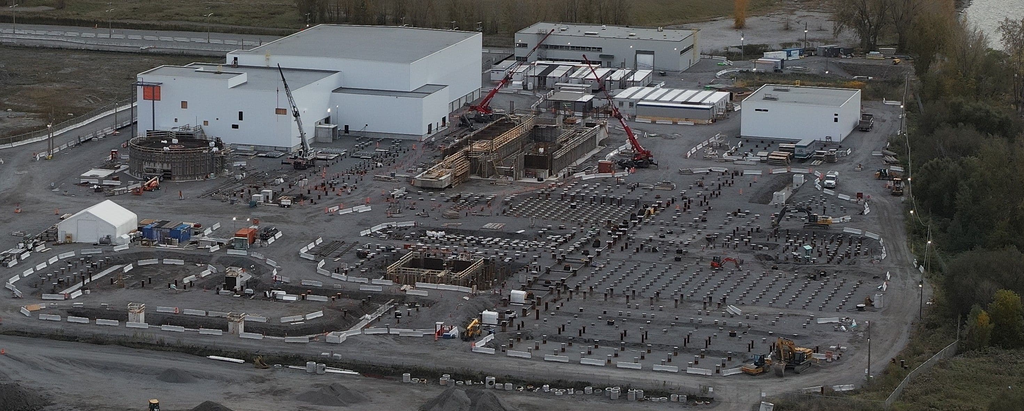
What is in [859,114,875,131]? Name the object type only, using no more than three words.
vehicle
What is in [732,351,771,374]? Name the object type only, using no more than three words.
work vehicle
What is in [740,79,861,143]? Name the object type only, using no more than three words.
building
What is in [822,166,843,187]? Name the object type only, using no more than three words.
truck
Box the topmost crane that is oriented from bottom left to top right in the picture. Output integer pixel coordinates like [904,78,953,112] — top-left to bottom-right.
[459,28,555,124]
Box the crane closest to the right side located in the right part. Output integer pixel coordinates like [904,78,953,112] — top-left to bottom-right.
[581,53,664,171]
